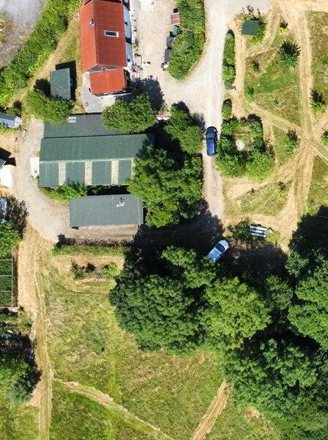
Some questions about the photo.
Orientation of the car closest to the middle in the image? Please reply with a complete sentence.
I'd say the car closest to the middle is aligned at an angle in the picture.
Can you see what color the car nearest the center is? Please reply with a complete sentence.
The car nearest the center is blue.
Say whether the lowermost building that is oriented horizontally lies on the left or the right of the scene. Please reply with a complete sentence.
It is on the left.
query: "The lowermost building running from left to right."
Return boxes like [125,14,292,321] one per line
[69,195,148,227]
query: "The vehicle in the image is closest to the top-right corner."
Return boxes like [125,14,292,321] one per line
[204,126,220,156]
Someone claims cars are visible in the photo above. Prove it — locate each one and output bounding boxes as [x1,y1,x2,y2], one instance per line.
[204,126,220,156]
[204,238,230,265]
